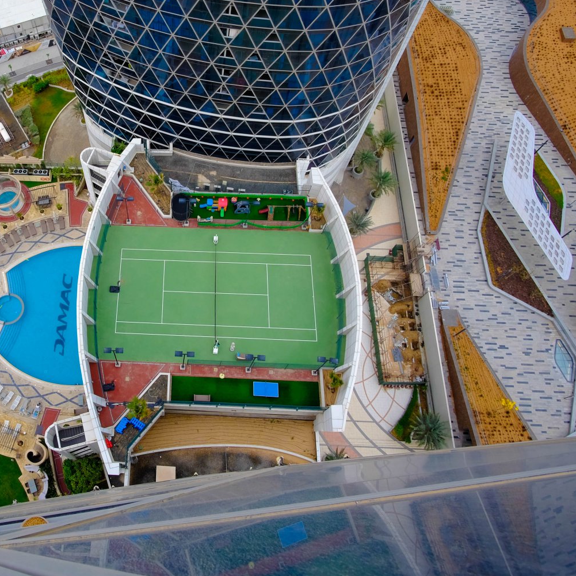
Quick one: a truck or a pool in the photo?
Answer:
pool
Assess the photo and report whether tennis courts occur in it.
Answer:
Yes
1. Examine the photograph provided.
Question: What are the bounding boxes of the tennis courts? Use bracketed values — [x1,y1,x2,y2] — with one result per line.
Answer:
[87,227,345,365]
